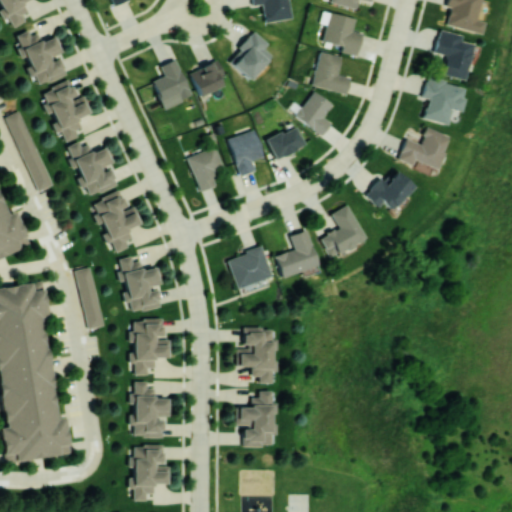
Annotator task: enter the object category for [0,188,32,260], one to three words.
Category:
building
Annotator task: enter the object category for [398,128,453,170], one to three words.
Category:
house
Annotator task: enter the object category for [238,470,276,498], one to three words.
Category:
sports court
